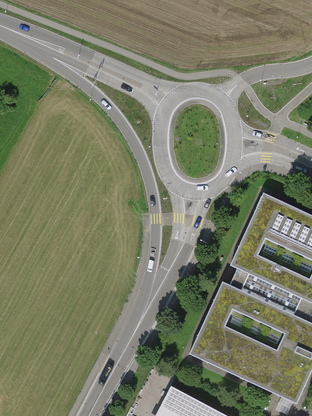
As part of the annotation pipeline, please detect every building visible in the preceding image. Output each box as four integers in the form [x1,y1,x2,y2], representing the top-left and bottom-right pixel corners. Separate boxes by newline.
[228,194,312,303]
[155,386,228,416]
[190,282,312,402]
